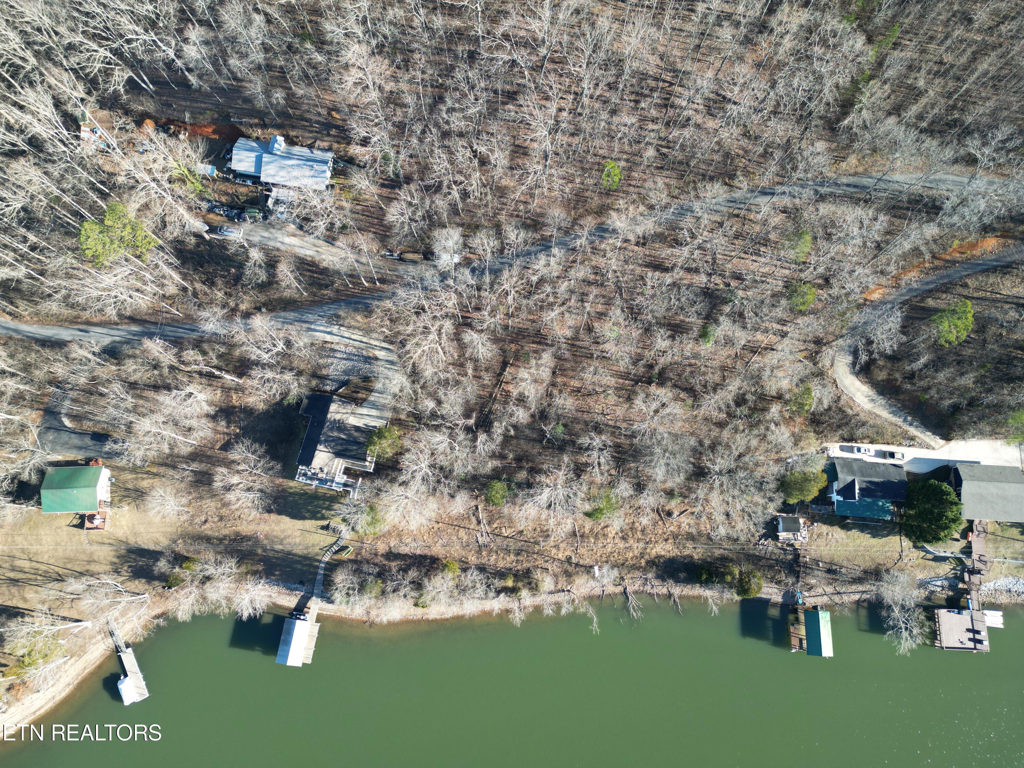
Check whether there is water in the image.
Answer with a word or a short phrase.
Yes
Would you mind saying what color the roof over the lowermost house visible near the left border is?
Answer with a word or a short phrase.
green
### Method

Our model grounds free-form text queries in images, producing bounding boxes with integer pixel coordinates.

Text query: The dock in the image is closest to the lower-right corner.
[934,609,992,653]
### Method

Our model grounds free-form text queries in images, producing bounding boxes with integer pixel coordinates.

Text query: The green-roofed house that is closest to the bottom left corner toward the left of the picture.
[40,457,113,513]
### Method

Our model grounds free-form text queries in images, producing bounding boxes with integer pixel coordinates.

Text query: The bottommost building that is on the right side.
[800,610,833,657]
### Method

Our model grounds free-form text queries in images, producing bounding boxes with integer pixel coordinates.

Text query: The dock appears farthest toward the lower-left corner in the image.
[103,616,151,703]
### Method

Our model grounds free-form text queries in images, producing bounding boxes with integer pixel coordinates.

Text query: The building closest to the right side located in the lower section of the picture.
[949,463,1024,523]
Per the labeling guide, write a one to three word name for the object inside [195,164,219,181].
shed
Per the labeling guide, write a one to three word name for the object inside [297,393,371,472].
house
